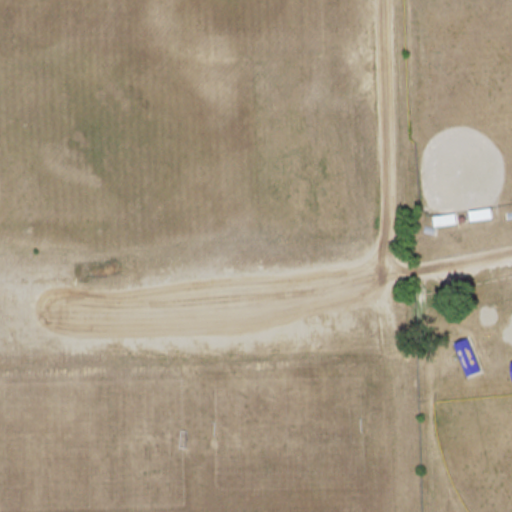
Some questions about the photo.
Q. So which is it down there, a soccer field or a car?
soccer field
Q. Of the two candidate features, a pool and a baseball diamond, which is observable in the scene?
baseball diamond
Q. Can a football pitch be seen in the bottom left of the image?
Yes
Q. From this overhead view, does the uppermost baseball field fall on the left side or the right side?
right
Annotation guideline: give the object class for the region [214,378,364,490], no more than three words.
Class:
soccer field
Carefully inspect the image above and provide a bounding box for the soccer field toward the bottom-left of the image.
[0,377,185,507]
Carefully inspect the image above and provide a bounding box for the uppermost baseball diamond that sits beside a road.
[406,0,512,213]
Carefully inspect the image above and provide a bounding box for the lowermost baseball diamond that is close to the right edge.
[437,395,512,512]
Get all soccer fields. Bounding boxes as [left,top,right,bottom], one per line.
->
[214,378,364,490]
[0,377,185,507]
